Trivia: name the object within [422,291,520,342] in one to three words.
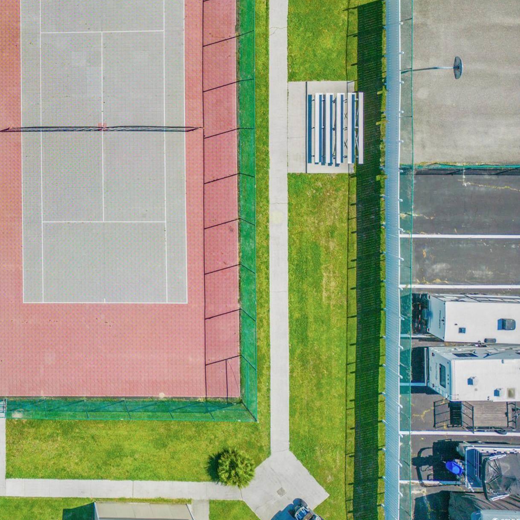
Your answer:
trailer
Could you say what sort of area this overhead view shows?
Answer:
sports ground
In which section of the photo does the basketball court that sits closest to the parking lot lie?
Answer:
top right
